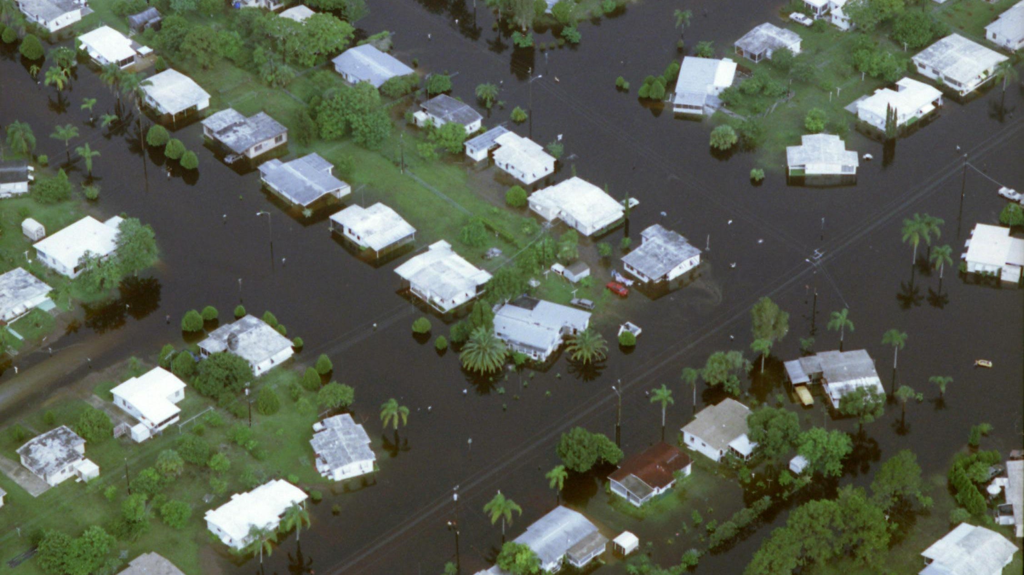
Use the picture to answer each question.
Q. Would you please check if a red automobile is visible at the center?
Yes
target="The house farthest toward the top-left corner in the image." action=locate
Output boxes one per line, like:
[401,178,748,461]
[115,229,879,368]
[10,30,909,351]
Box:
[24,0,81,29]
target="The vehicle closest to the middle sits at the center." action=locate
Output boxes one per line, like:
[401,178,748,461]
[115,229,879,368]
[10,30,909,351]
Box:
[564,296,600,313]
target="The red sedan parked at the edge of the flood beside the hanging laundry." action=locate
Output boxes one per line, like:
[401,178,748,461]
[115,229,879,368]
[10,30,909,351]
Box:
[602,280,633,301]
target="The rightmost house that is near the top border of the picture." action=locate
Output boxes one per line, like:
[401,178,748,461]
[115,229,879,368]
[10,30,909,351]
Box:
[986,2,1024,51]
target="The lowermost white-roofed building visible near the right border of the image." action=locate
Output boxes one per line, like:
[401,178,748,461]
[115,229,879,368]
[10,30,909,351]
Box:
[915,519,1015,575]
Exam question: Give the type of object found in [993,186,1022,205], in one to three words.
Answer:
vehicle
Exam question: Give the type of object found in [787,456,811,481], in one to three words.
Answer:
shed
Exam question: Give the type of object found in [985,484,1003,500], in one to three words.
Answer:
umbrella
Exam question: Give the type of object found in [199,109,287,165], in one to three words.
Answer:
house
